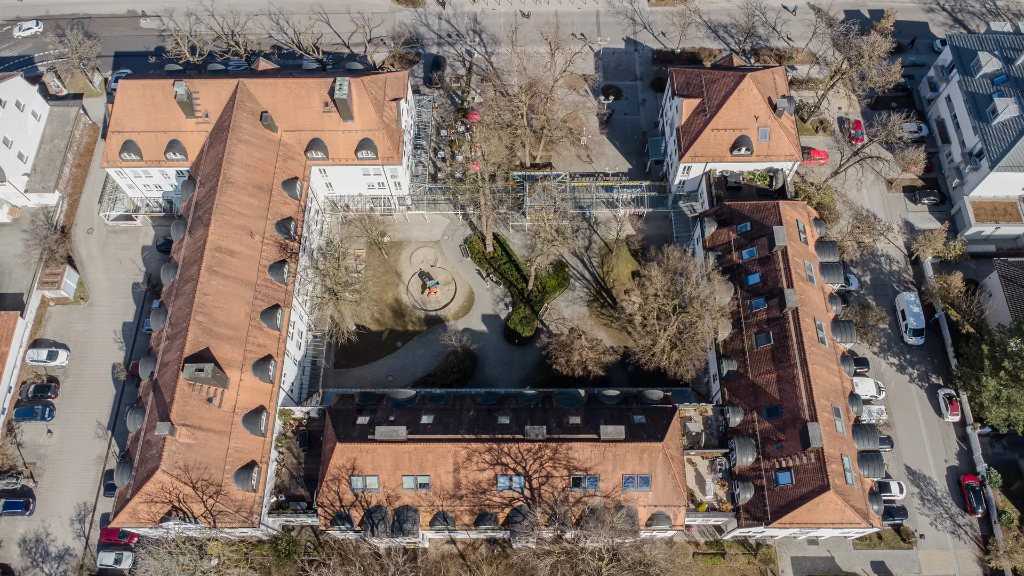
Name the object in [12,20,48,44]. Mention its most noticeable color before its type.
white car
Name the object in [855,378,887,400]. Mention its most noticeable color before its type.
white vehicle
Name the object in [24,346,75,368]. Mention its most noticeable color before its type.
white car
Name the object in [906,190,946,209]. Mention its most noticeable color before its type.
black car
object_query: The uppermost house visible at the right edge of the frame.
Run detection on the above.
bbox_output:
[911,15,1024,215]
